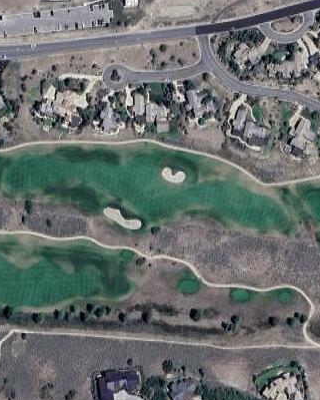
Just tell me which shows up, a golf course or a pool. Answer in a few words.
golf course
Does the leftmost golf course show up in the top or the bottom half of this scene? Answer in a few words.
bottom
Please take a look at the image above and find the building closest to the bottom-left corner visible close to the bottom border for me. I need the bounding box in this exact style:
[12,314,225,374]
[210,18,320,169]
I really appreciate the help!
[96,369,140,400]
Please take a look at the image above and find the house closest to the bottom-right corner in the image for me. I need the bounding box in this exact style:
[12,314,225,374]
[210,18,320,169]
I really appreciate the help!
[260,370,302,400]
